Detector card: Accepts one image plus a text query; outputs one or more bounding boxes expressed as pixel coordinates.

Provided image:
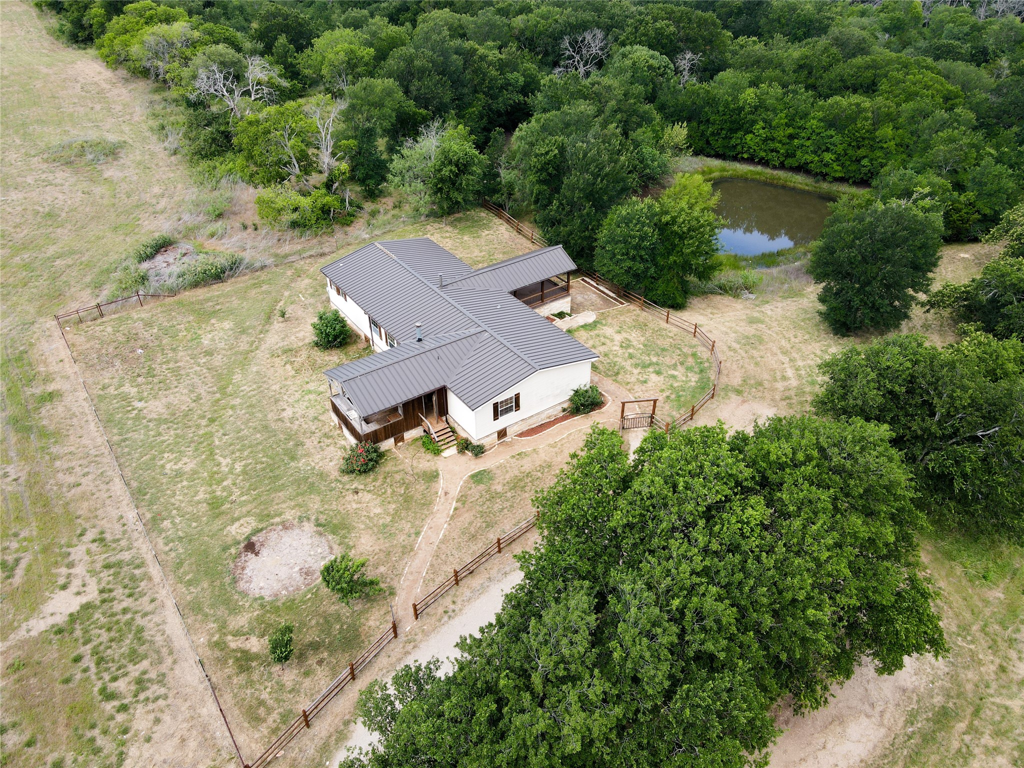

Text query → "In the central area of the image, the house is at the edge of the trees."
[319,238,601,454]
